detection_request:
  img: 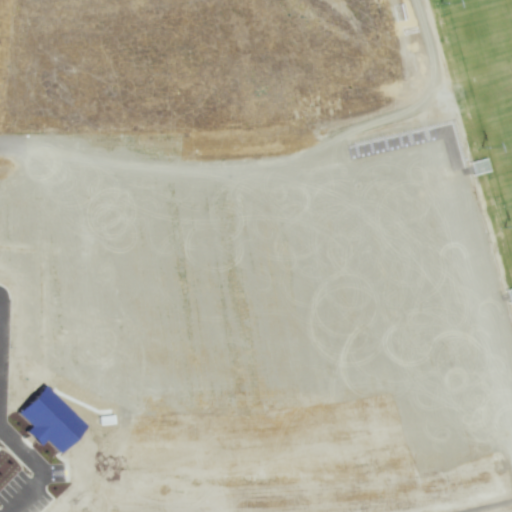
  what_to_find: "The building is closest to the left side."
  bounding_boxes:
[21,386,89,453]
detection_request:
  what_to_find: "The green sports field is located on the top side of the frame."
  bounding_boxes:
[430,0,512,290]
